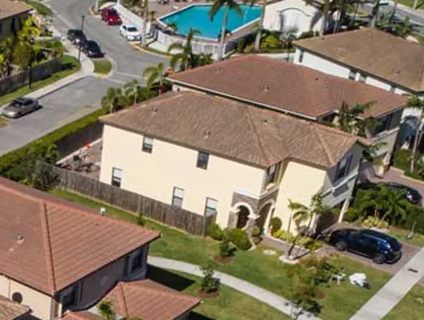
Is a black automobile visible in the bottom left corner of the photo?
No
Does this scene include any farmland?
No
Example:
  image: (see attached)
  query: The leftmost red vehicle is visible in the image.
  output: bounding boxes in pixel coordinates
[101,8,120,22]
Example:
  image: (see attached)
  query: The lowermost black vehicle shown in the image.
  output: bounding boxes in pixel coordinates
[330,227,407,262]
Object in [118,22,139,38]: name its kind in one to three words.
car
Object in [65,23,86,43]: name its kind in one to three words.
car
